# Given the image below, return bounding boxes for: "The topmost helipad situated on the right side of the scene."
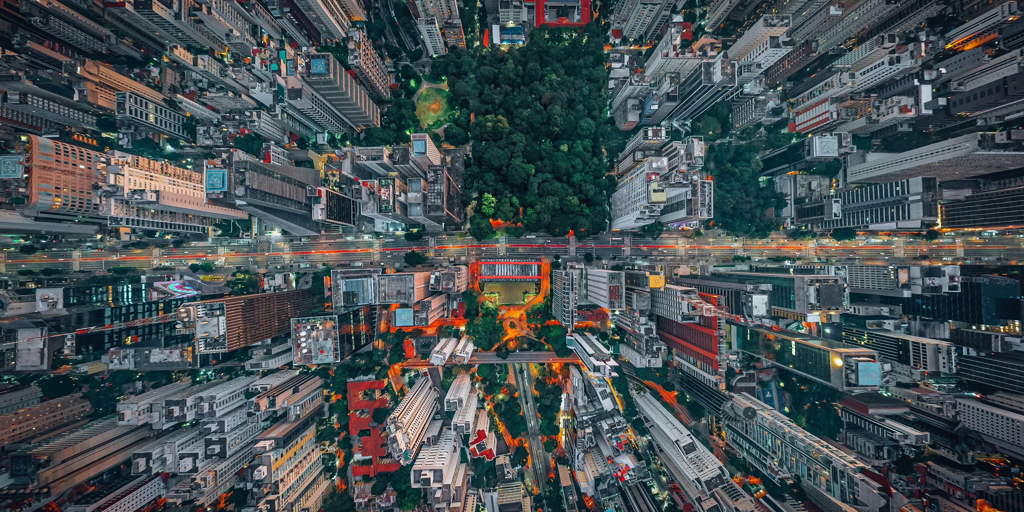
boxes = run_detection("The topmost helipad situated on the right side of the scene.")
[815,136,838,156]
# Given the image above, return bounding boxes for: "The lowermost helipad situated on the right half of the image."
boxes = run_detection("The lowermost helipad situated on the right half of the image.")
[855,362,881,385]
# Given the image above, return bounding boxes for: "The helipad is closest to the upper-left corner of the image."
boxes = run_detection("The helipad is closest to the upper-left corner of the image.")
[0,156,25,178]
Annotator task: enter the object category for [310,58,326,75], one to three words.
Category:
helipad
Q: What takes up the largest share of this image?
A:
buildings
